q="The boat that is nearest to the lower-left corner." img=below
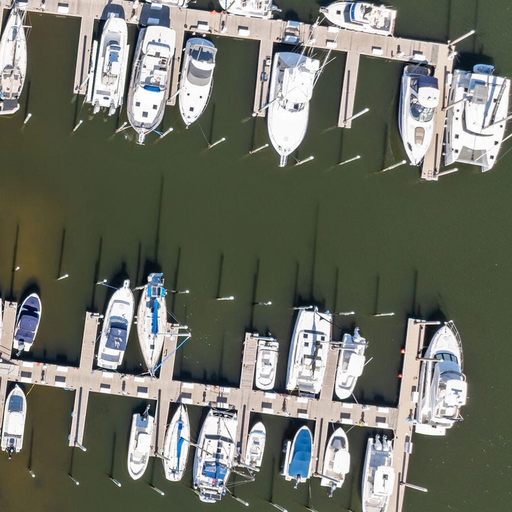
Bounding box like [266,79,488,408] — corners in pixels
[0,384,26,457]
